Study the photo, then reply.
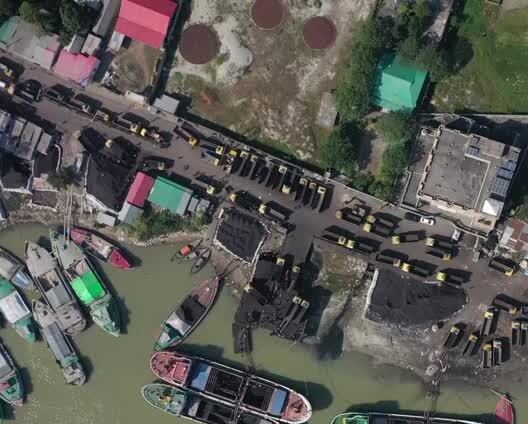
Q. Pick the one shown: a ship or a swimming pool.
ship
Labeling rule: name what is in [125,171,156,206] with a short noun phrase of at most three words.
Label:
building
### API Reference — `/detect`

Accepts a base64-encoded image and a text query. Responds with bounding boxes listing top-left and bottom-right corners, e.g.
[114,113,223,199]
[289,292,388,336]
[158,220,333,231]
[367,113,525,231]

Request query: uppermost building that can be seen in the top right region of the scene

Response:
[372,56,429,114]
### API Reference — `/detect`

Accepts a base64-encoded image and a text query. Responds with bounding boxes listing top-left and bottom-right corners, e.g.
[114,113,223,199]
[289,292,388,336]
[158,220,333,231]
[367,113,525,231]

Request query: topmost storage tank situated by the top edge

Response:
[251,0,286,29]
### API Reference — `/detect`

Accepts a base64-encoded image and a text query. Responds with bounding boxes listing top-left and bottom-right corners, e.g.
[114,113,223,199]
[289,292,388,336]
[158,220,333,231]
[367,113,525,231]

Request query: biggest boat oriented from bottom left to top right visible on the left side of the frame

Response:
[154,277,219,353]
